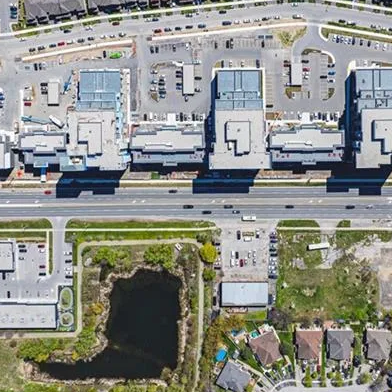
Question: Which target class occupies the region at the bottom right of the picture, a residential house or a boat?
residential house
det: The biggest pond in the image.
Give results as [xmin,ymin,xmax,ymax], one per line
[38,269,181,380]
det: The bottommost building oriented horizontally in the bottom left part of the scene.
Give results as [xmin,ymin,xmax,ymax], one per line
[0,301,59,329]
